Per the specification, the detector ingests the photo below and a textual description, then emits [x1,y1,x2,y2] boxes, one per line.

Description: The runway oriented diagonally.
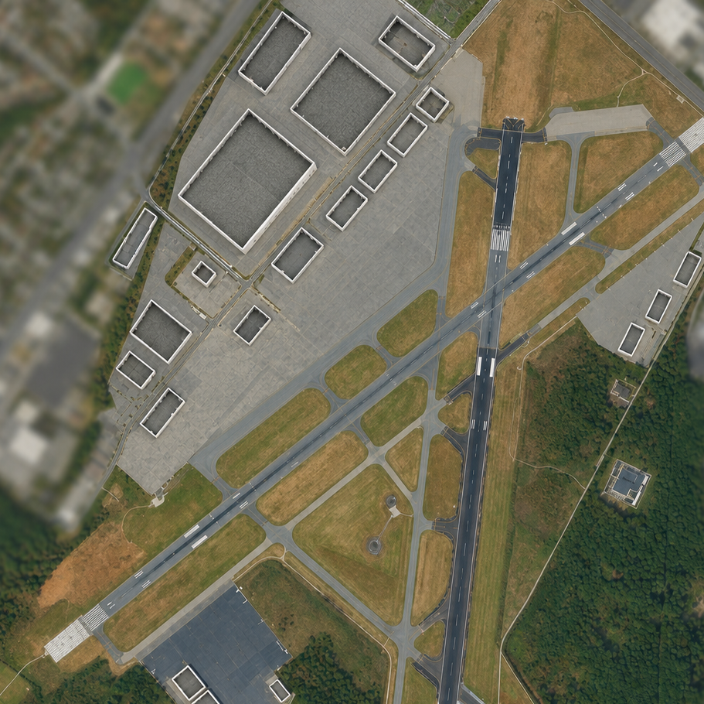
[81,142,683,631]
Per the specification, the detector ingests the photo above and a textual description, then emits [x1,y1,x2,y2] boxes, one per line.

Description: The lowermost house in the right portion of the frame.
[606,462,649,505]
